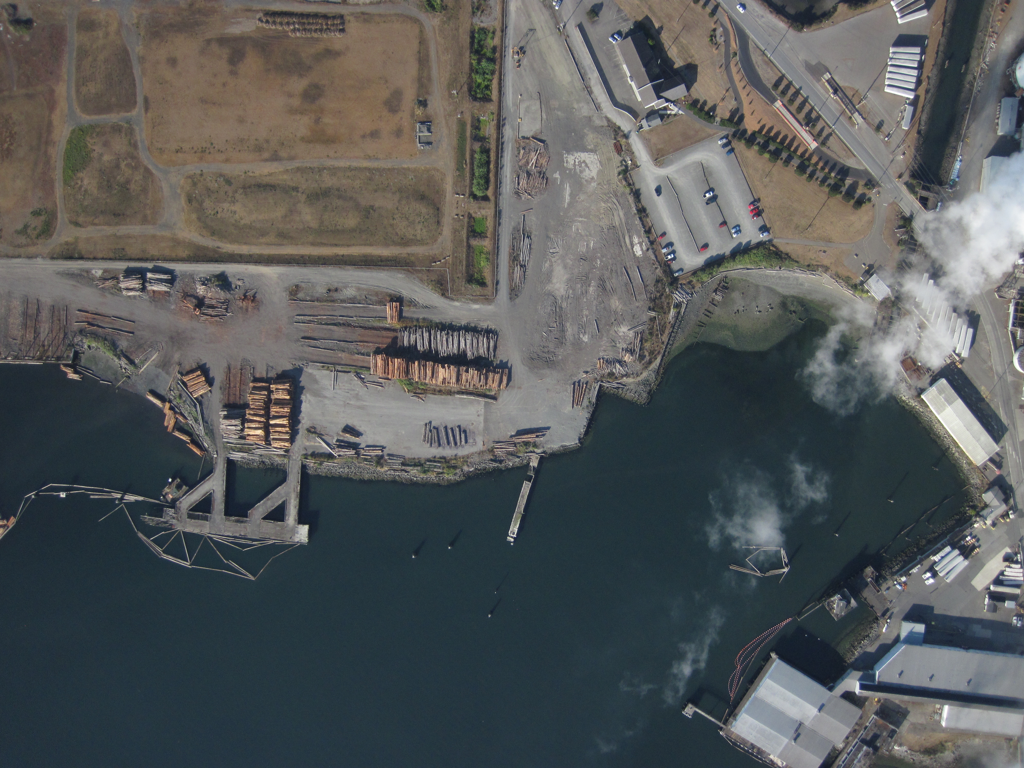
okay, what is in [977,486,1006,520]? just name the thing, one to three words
building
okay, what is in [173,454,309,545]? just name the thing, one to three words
pier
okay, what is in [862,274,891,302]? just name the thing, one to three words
shed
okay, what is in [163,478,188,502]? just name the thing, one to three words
ship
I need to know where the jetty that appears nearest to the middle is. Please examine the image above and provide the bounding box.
[507,456,540,541]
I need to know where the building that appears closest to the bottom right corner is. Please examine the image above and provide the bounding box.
[941,703,1024,737]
